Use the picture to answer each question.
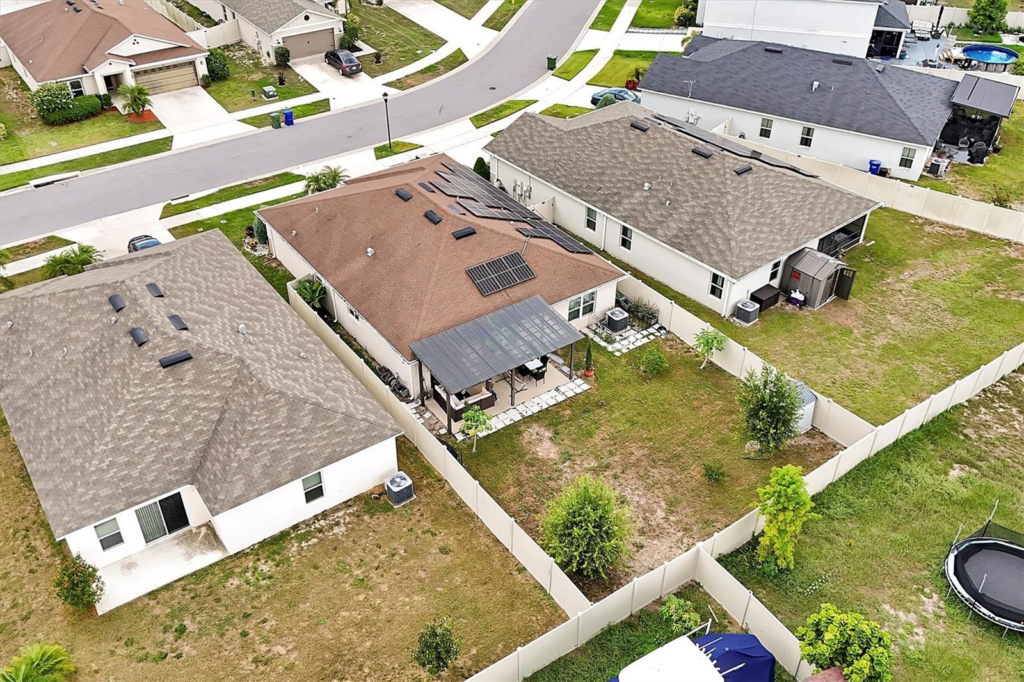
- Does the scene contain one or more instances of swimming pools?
Yes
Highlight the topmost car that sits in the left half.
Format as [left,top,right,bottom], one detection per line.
[327,51,362,75]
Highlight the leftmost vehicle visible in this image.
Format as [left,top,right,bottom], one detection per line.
[126,229,160,250]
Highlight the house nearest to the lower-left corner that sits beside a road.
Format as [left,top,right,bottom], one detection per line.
[0,227,404,574]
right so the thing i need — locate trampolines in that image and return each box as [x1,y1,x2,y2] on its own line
[940,514,1024,645]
